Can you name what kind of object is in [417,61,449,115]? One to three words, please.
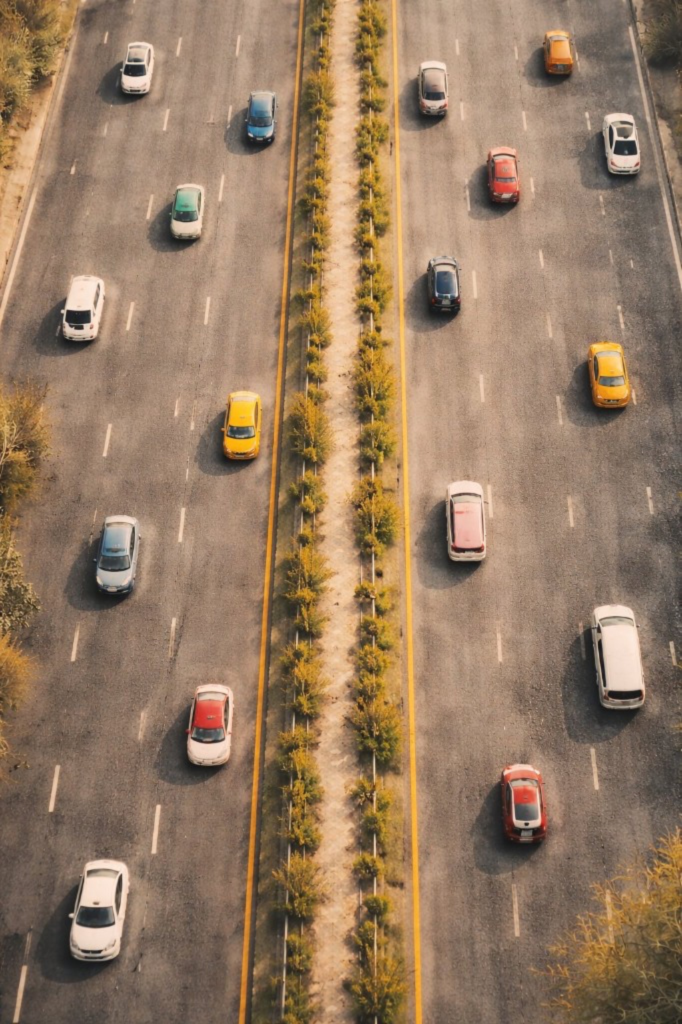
car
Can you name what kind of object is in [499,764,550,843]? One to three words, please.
car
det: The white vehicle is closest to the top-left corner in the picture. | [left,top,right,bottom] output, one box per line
[118,42,154,94]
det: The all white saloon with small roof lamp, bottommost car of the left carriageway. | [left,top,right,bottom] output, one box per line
[67,860,130,960]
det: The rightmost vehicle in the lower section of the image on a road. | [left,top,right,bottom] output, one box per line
[591,605,645,709]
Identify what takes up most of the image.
paved ground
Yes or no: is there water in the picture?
No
